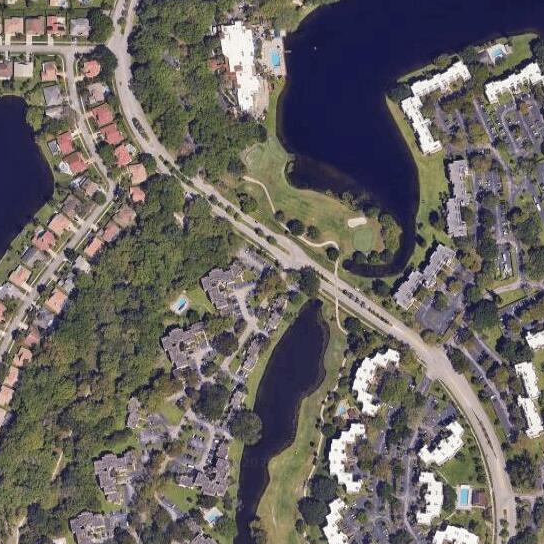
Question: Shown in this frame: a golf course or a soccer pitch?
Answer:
golf course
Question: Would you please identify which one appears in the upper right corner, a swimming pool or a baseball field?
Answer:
swimming pool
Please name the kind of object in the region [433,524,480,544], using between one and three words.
building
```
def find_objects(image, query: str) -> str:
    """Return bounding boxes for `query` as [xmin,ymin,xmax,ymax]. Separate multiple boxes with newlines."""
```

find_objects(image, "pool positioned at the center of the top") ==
[264,36,284,74]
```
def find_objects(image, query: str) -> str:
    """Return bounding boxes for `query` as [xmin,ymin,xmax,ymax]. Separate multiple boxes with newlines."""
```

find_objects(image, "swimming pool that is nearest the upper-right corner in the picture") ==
[484,43,508,63]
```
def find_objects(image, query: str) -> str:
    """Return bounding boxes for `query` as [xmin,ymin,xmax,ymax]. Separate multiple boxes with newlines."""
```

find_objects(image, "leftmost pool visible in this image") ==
[170,295,188,314]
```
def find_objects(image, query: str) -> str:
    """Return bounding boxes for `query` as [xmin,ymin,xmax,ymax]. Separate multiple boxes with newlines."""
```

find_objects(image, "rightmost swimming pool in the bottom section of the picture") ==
[456,486,473,510]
